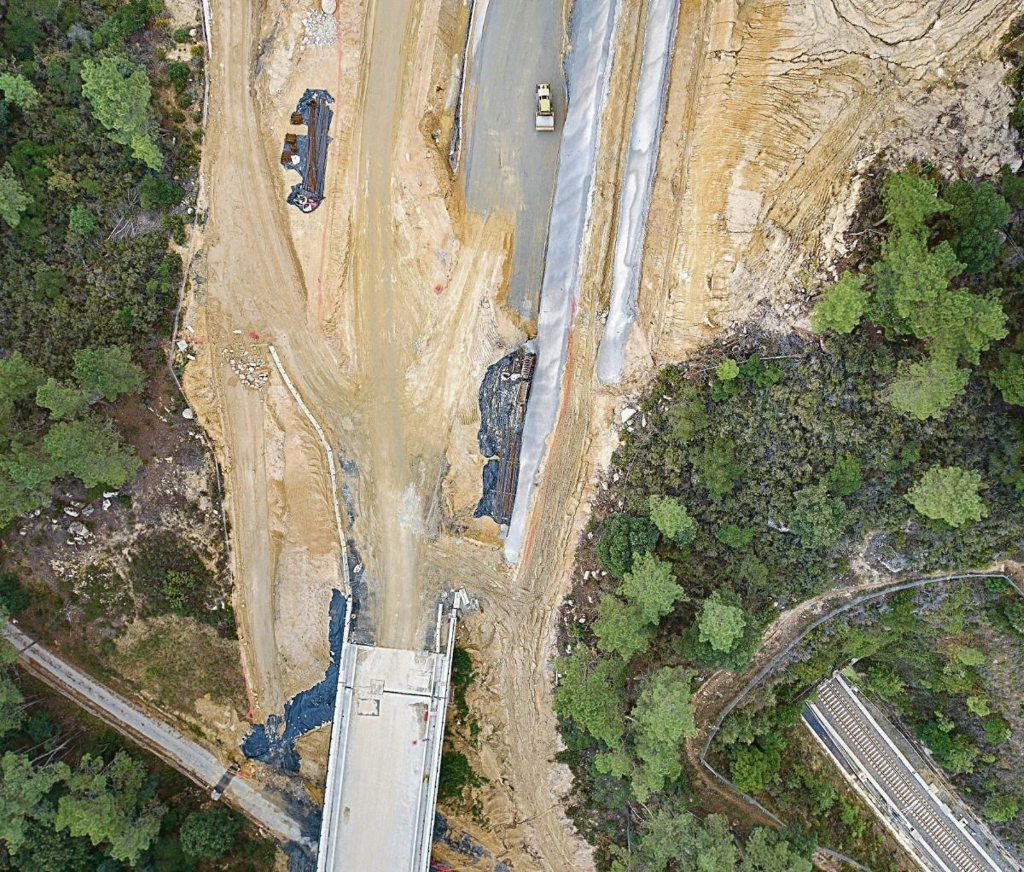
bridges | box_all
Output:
[318,640,452,872]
